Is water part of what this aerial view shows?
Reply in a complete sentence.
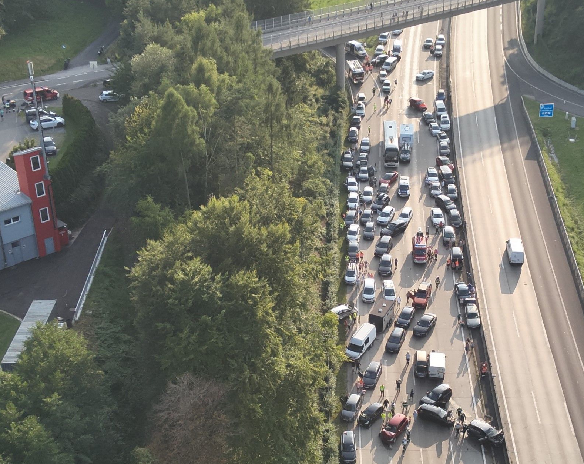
No, the scene doesn't show any water.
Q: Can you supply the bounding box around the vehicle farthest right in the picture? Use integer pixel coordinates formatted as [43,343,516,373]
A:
[507,239,524,262]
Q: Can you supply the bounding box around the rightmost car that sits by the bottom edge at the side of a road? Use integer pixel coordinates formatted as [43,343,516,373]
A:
[467,414,503,445]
